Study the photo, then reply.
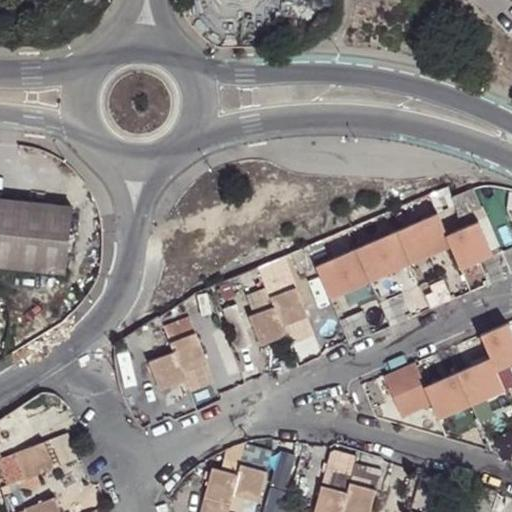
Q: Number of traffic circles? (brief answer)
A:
1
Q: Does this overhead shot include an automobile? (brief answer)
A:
Yes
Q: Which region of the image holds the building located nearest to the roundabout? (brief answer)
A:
left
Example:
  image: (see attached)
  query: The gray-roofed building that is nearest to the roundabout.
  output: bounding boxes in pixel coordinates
[0,190,72,276]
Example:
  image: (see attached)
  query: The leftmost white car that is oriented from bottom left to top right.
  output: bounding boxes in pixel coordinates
[80,406,96,424]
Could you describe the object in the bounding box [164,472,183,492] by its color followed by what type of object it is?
white car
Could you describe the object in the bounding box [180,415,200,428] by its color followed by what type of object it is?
white vehicle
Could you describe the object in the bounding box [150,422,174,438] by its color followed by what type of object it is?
white vehicle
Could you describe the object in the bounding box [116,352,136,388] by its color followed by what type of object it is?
white camper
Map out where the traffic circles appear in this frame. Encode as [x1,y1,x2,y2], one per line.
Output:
[80,43,200,163]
